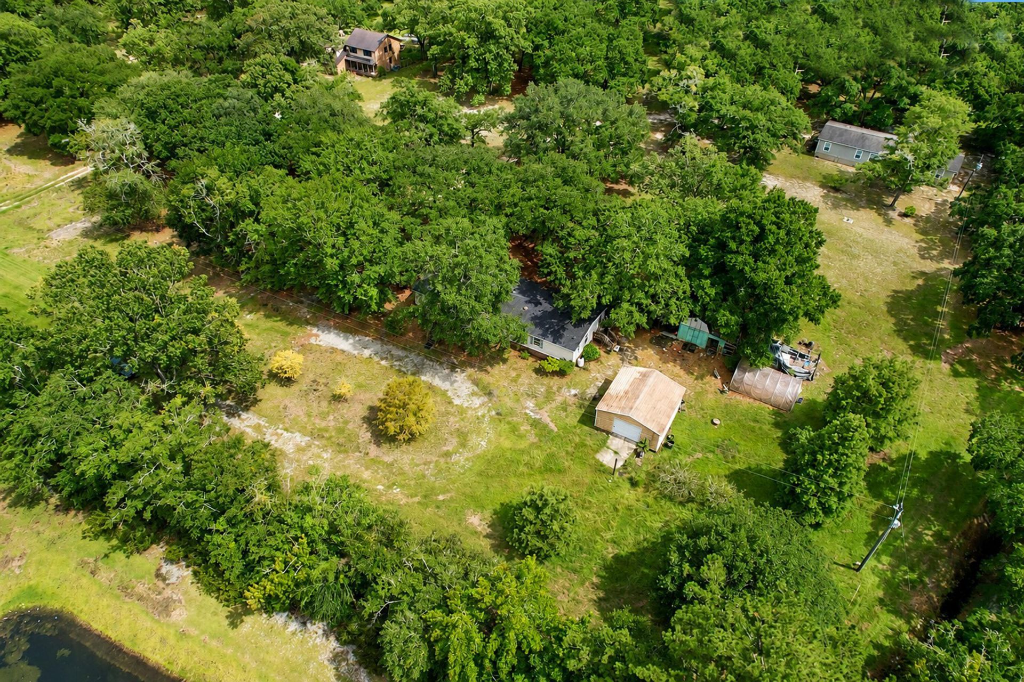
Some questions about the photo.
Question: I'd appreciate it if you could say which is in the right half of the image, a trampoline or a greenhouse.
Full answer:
It is a greenhouse that can be seen in the right half of the image.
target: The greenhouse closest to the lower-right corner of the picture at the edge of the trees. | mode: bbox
[730,360,802,412]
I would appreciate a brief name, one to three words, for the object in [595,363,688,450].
building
